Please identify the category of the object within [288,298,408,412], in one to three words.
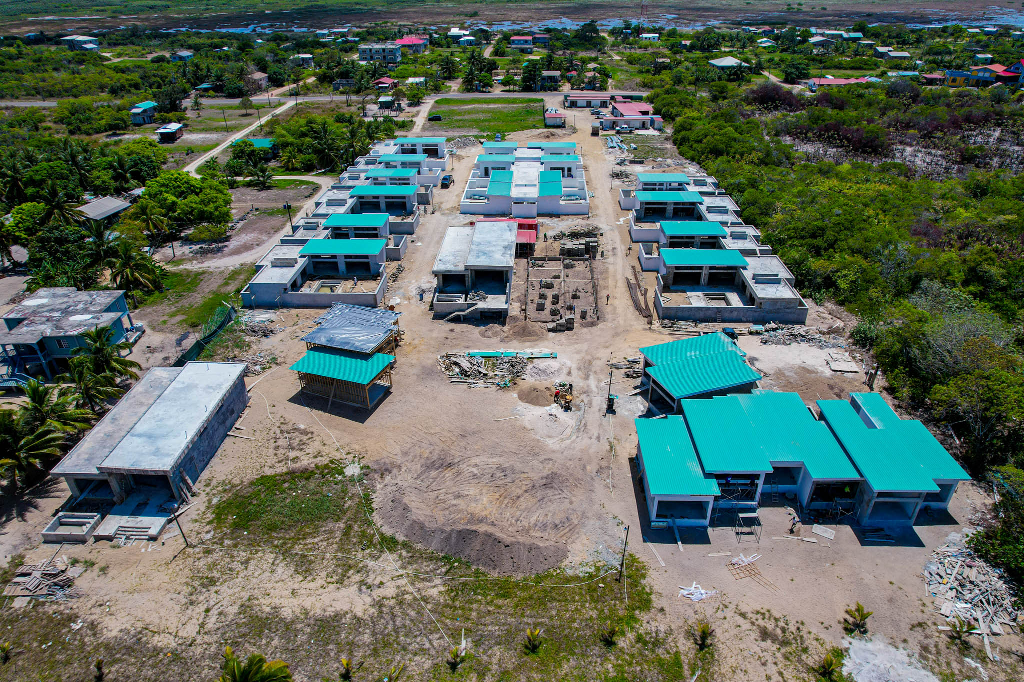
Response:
shed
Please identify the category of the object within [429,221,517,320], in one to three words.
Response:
house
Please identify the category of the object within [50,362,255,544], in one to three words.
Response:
house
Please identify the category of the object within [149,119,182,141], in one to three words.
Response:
building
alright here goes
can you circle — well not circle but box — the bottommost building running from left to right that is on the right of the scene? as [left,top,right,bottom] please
[634,389,972,525]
